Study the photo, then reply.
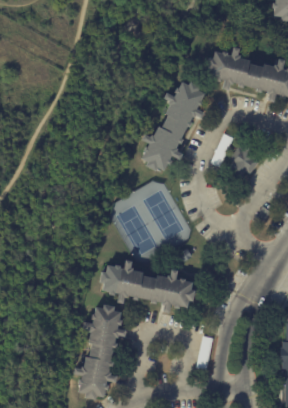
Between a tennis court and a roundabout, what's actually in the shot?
tennis court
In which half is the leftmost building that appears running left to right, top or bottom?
bottom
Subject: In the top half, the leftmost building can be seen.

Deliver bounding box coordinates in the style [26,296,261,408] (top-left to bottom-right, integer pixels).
[141,82,204,168]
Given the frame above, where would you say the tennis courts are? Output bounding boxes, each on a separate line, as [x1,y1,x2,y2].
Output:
[144,192,182,239]
[118,206,154,255]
